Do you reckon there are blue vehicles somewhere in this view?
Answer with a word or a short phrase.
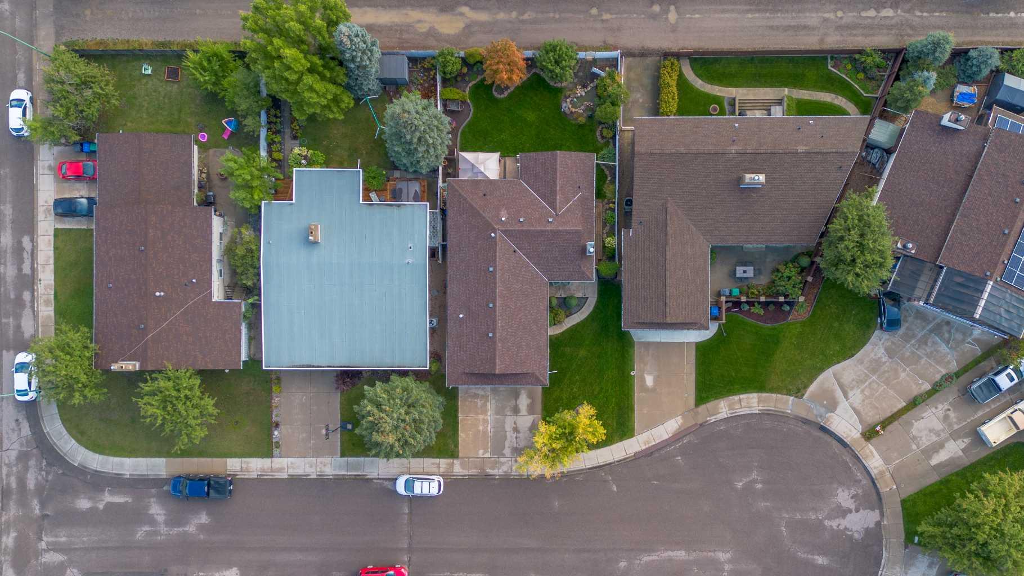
Yes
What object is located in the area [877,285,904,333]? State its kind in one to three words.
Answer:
car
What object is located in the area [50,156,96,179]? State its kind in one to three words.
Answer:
car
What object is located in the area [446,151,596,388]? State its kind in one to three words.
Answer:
house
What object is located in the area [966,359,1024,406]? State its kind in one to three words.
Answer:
truck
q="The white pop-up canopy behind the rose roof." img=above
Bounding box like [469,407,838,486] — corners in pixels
[458,152,500,179]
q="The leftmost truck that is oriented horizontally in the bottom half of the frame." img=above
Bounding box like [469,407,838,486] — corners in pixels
[168,478,230,504]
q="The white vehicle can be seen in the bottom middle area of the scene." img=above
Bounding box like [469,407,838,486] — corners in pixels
[395,476,443,501]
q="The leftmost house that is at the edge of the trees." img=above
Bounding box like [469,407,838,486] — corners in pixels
[94,132,251,370]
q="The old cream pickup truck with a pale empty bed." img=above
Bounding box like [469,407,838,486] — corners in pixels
[981,402,1024,447]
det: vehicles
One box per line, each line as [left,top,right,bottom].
[2,89,31,136]
[877,285,904,333]
[46,193,96,217]
[50,156,96,179]
[6,352,35,402]
[358,565,407,576]
[168,478,230,504]
[966,359,1024,406]
[395,476,443,501]
[981,402,1024,447]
